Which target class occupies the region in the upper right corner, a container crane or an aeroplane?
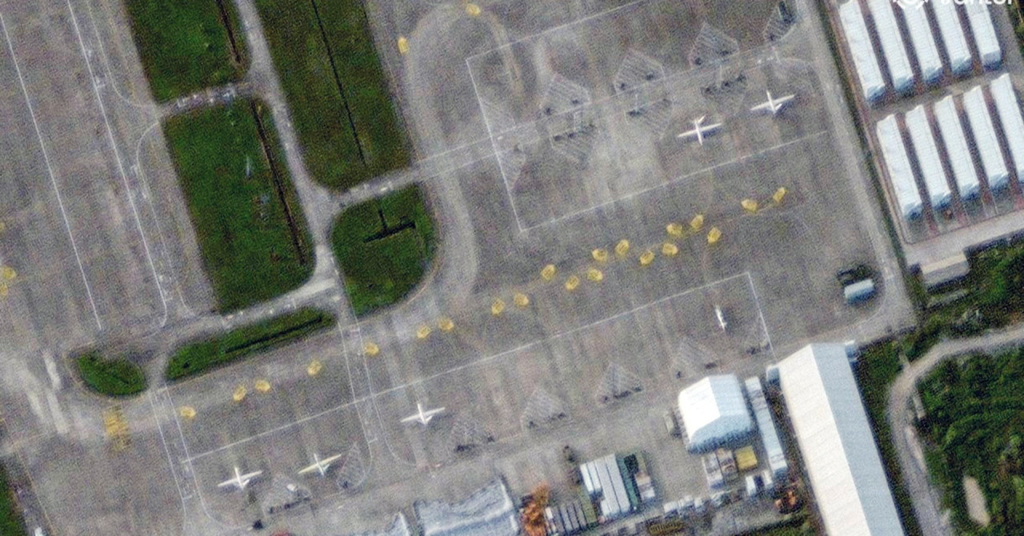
aeroplane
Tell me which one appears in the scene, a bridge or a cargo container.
cargo container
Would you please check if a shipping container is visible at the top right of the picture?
No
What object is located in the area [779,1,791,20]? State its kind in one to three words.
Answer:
vehicle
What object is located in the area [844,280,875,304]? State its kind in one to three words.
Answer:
shed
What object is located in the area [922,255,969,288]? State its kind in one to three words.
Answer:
shed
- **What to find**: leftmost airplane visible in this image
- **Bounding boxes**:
[217,466,261,490]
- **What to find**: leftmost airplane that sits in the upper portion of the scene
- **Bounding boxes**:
[677,117,721,145]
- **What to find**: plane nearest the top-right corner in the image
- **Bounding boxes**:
[750,90,793,113]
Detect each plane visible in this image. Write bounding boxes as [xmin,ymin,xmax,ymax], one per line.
[217,466,261,490]
[400,403,444,425]
[296,454,342,477]
[677,117,721,145]
[716,307,731,331]
[750,90,793,113]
